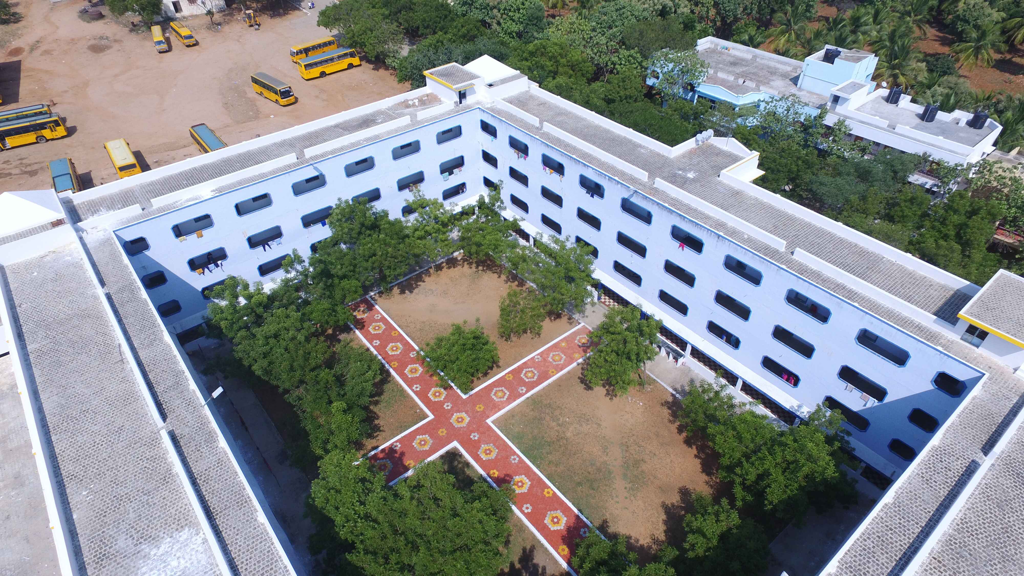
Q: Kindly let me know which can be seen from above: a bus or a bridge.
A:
bus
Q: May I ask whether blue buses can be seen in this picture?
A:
Yes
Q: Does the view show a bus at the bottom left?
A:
No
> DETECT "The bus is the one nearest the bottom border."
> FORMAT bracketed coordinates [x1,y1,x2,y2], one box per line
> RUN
[46,159,83,205]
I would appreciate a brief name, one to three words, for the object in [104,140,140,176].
bus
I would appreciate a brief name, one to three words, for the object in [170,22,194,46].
vehicle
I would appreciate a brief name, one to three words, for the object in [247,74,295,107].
bus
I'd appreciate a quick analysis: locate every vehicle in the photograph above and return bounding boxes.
[46,159,83,205]
[0,107,66,151]
[292,45,356,76]
[238,7,259,28]
[170,22,194,46]
[247,74,295,107]
[150,26,167,51]
[104,140,140,176]
[286,33,336,62]
[188,124,225,152]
